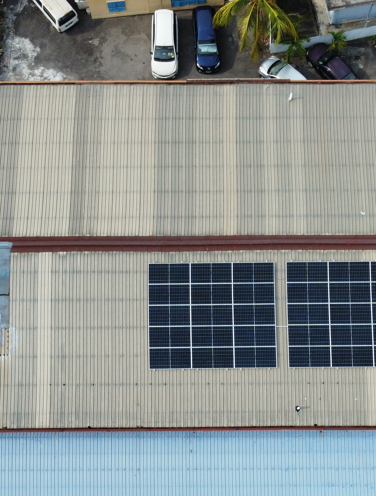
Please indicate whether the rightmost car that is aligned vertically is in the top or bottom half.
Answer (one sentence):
It is in the top half that the rightmost car that is aligned vertically appears.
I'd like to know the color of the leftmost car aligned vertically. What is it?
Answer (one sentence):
The leftmost car aligned vertically is white.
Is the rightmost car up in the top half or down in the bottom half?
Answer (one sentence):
It is in the top half that the rightmost car appears.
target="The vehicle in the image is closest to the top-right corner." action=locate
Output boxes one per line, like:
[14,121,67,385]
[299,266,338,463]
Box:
[308,43,362,78]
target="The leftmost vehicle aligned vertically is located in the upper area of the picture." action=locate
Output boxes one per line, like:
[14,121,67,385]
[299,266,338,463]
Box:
[149,11,182,79]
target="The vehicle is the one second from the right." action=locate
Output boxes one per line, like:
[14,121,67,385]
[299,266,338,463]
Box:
[261,57,304,79]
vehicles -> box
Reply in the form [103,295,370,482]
[29,0,76,35]
[149,11,182,79]
[308,43,362,78]
[193,11,224,75]
[261,57,304,79]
